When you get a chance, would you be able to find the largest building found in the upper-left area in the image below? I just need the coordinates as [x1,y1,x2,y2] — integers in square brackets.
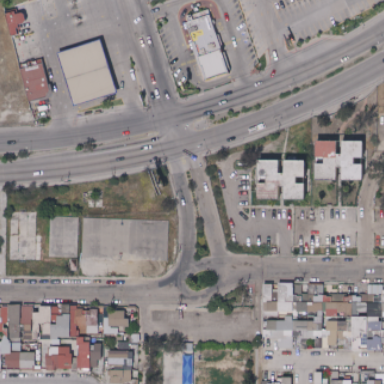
[58,39,116,105]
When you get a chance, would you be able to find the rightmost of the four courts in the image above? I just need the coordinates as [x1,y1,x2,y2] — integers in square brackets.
[130,219,168,260]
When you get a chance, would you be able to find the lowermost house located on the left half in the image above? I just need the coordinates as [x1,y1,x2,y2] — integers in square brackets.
[108,368,138,383]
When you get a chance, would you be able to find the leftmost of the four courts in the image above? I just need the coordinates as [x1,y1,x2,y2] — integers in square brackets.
[10,211,41,260]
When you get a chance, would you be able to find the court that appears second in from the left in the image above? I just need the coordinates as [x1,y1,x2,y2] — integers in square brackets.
[49,216,78,257]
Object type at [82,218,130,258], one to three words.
sports court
